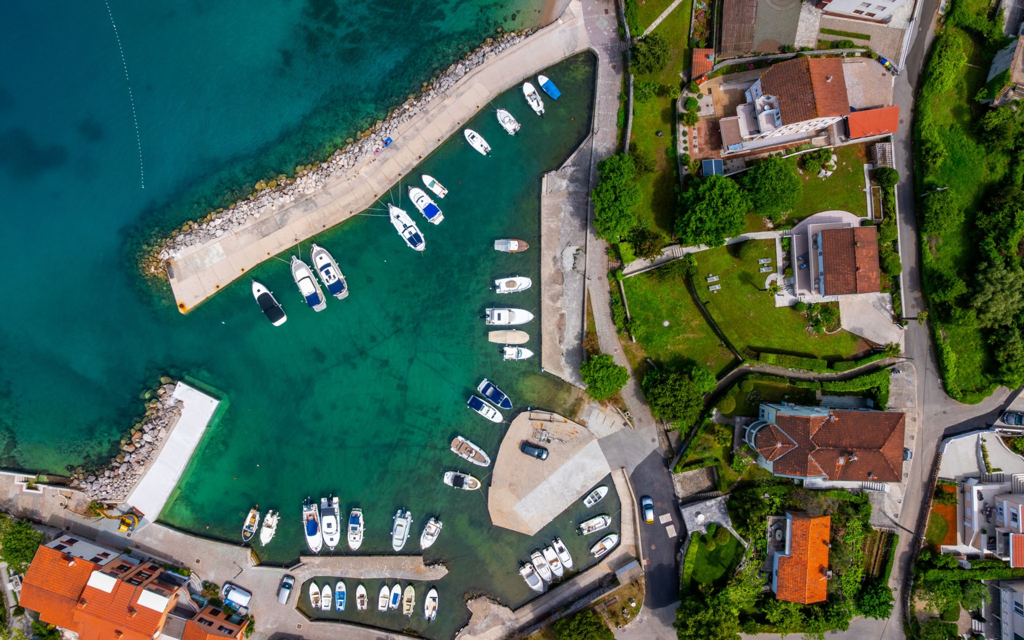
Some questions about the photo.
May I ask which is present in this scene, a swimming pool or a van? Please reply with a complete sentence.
The one in the frame is a van.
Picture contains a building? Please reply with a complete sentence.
Yes, the picture does show a building.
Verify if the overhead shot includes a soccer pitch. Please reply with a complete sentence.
No, the scene contains no soccer pitch.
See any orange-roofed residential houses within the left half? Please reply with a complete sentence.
Yes, you'll find an orange-roofed residential house within the left half.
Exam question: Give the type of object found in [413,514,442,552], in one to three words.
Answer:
boat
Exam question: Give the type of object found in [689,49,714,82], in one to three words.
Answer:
shed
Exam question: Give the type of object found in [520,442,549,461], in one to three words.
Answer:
car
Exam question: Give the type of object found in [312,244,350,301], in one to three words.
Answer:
boat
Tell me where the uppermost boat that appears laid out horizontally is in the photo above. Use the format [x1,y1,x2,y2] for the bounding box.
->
[493,237,529,253]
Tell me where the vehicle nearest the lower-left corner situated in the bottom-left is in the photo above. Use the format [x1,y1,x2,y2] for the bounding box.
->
[95,504,146,533]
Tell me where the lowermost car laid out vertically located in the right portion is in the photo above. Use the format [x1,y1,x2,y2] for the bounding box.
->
[639,495,653,524]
